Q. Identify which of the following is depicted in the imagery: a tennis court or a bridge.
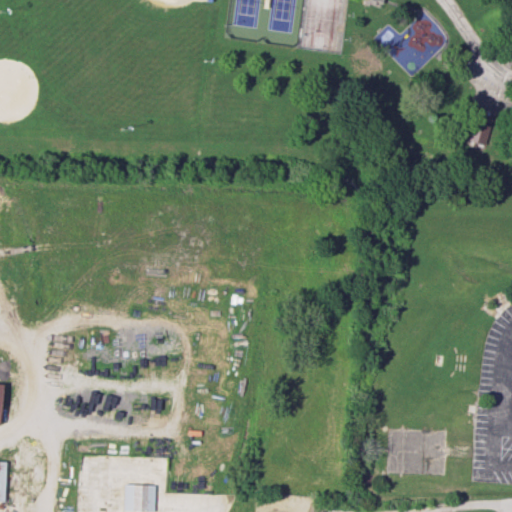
tennis court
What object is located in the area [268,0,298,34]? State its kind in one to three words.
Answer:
tennis court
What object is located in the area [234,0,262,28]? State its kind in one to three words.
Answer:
tennis court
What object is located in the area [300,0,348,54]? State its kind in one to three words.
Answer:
sports court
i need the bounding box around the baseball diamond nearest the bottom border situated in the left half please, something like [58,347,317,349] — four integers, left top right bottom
[0,57,40,125]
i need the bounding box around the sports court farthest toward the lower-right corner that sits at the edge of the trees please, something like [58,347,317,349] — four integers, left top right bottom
[387,428,446,476]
